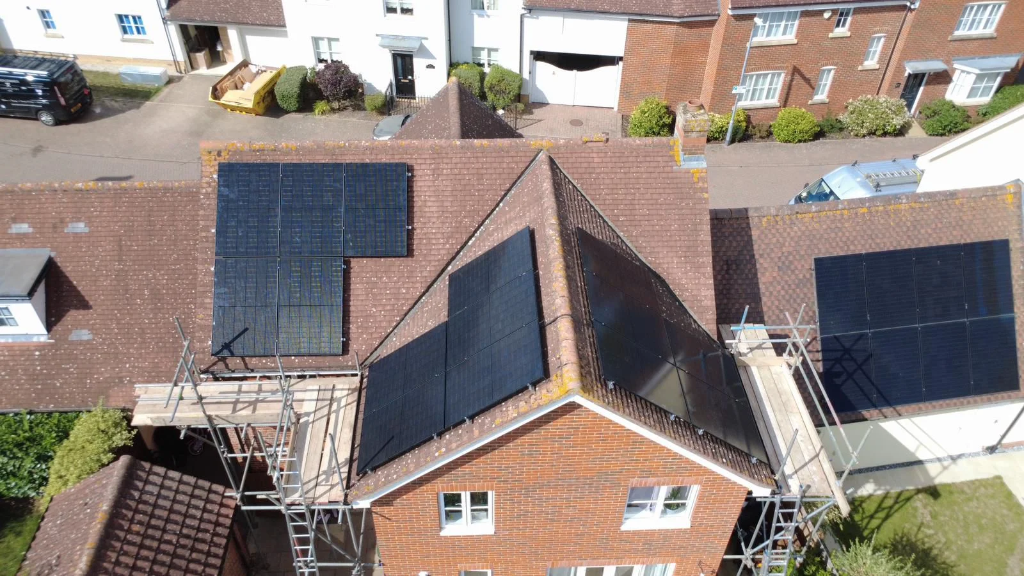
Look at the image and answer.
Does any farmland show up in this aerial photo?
No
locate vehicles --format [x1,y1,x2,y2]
[785,153,940,201]
[0,53,89,126]
[369,100,425,140]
